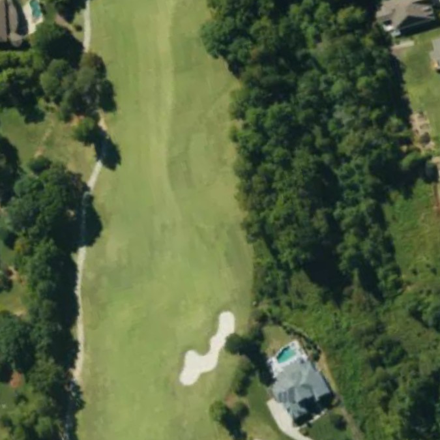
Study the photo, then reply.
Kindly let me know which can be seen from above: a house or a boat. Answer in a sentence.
I can see a house in this picture.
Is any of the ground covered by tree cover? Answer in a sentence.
Yes, there is tree cover in the image.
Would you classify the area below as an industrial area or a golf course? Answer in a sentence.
The picture captures a golf course.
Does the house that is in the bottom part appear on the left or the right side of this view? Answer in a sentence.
The house that is in the bottom part appears in the right half of the scene.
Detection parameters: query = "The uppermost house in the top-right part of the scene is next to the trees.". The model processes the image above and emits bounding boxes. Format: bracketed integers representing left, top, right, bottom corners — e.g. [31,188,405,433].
[377,0,437,35]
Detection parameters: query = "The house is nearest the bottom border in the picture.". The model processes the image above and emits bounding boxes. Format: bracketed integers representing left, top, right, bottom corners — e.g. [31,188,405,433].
[272,360,331,427]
